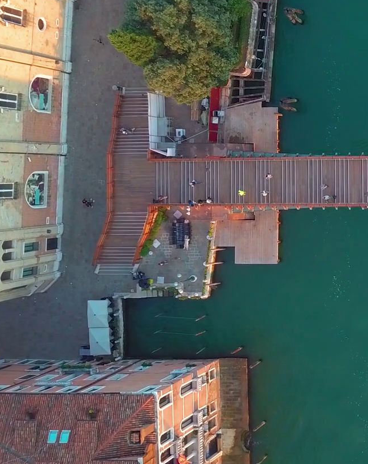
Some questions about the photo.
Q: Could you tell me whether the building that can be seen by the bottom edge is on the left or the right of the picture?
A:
left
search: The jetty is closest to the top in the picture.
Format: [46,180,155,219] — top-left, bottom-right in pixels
[225,101,282,151]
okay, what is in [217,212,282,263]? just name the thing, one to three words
pier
